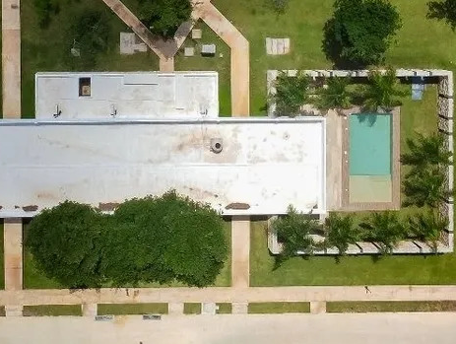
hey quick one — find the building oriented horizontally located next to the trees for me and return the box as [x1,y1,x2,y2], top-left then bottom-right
[0,69,327,218]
